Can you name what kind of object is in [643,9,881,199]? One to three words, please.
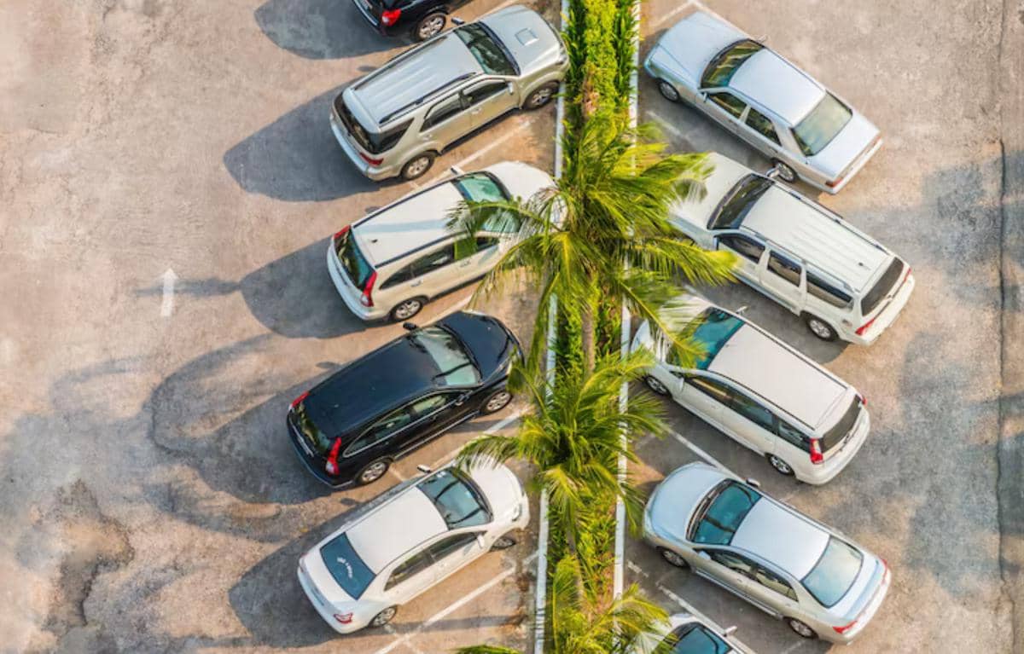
car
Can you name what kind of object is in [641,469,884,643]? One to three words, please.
car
